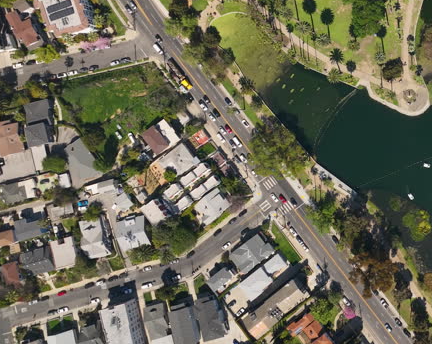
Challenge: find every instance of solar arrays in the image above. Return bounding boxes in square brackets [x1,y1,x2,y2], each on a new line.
[48,7,75,20]
[46,0,72,12]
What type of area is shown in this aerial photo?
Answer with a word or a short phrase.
residential area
